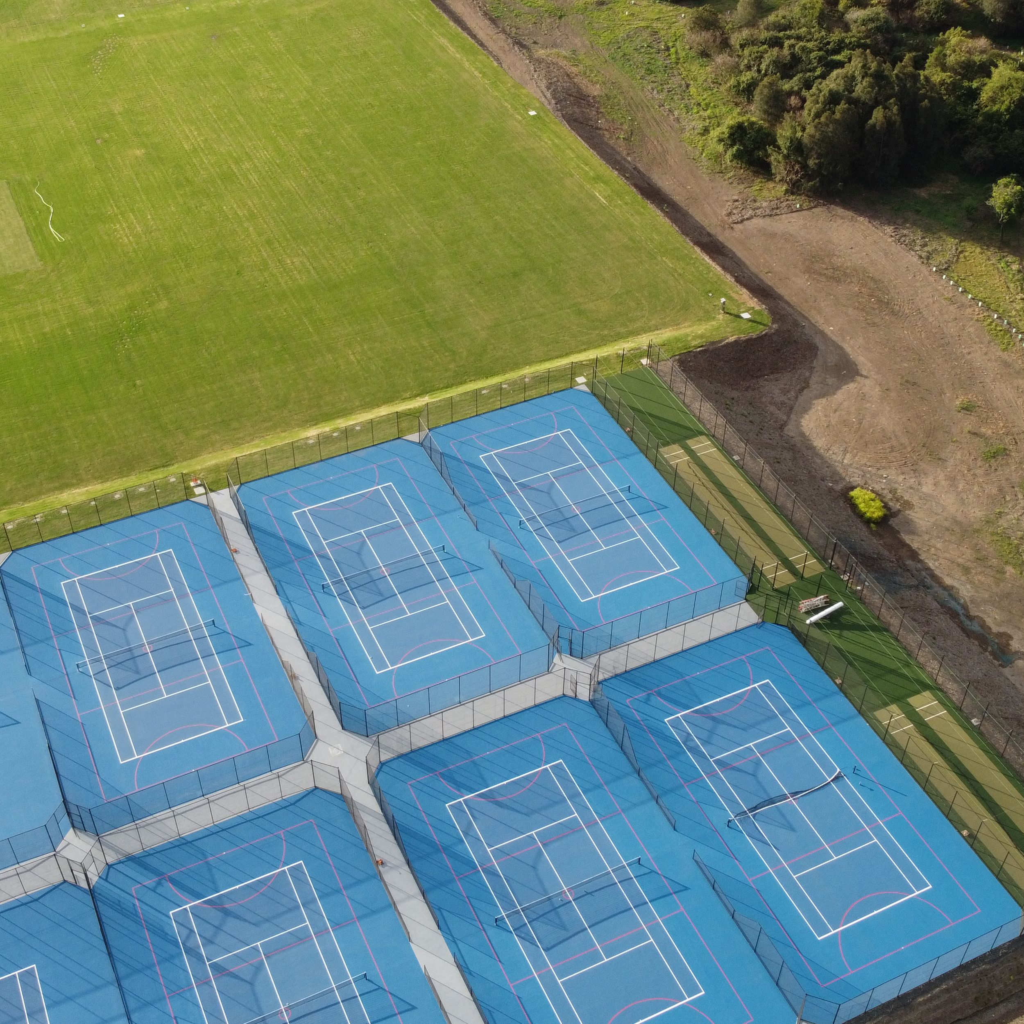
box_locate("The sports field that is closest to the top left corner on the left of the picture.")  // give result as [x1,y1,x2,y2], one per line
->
[0,0,771,553]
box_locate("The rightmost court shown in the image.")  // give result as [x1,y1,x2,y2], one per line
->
[590,621,1022,1024]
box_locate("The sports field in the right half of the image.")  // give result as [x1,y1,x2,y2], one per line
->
[589,365,1024,908]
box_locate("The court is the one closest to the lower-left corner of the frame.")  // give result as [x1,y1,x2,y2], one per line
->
[0,879,129,1024]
